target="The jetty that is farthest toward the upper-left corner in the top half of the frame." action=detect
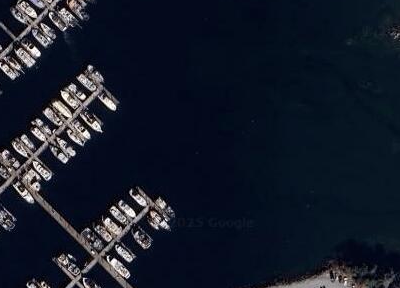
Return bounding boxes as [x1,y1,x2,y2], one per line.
[0,0,63,69]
